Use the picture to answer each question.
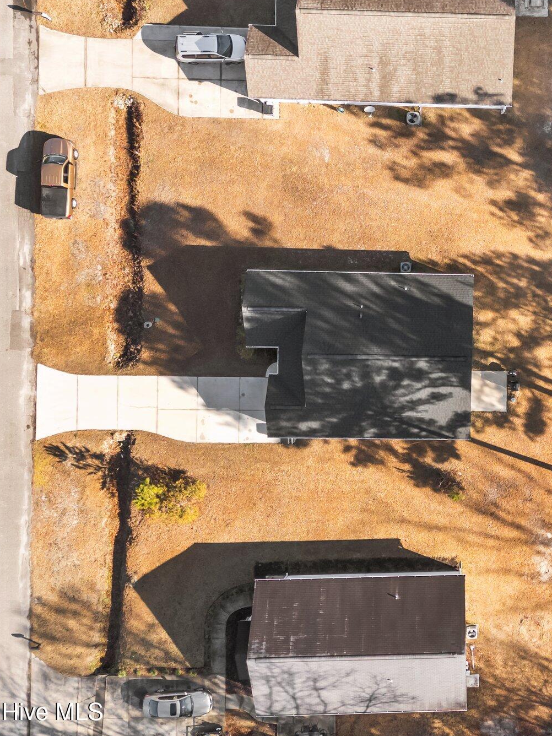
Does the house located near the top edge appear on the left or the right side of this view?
right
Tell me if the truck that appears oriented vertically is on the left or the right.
left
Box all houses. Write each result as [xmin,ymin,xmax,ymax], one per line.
[242,269,474,442]
[242,0,517,116]
[236,560,467,718]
